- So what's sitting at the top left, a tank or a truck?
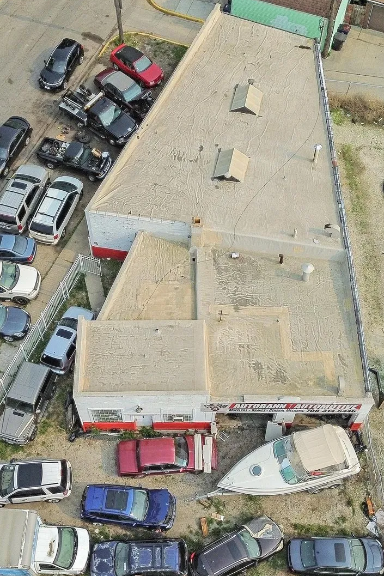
truck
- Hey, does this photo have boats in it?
Yes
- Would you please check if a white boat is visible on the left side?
No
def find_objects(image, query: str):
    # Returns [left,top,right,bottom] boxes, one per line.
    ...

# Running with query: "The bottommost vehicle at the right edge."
[285,530,384,576]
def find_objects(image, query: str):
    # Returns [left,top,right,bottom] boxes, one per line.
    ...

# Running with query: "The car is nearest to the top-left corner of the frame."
[41,34,87,92]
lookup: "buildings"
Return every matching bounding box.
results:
[363,0,384,34]
[74,0,378,438]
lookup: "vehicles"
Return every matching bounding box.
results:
[0,457,75,506]
[33,139,109,185]
[39,305,94,382]
[0,354,56,451]
[92,65,154,116]
[285,530,384,576]
[27,178,85,248]
[189,513,285,576]
[0,300,33,344]
[0,509,92,576]
[0,231,39,266]
[109,45,164,91]
[90,533,189,576]
[41,34,87,92]
[0,114,34,180]
[58,86,138,149]
[0,256,42,302]
[116,432,218,478]
[78,480,177,532]
[0,166,52,233]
